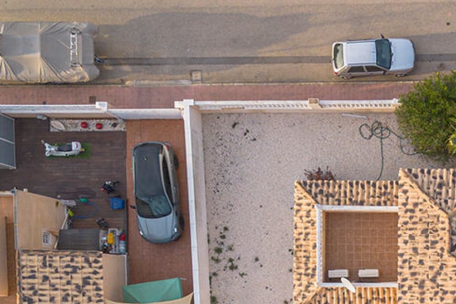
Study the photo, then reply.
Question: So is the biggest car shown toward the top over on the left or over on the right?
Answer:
right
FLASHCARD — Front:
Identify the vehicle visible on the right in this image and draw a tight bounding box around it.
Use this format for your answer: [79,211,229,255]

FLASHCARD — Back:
[333,33,417,80]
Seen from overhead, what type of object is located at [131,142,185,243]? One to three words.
car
